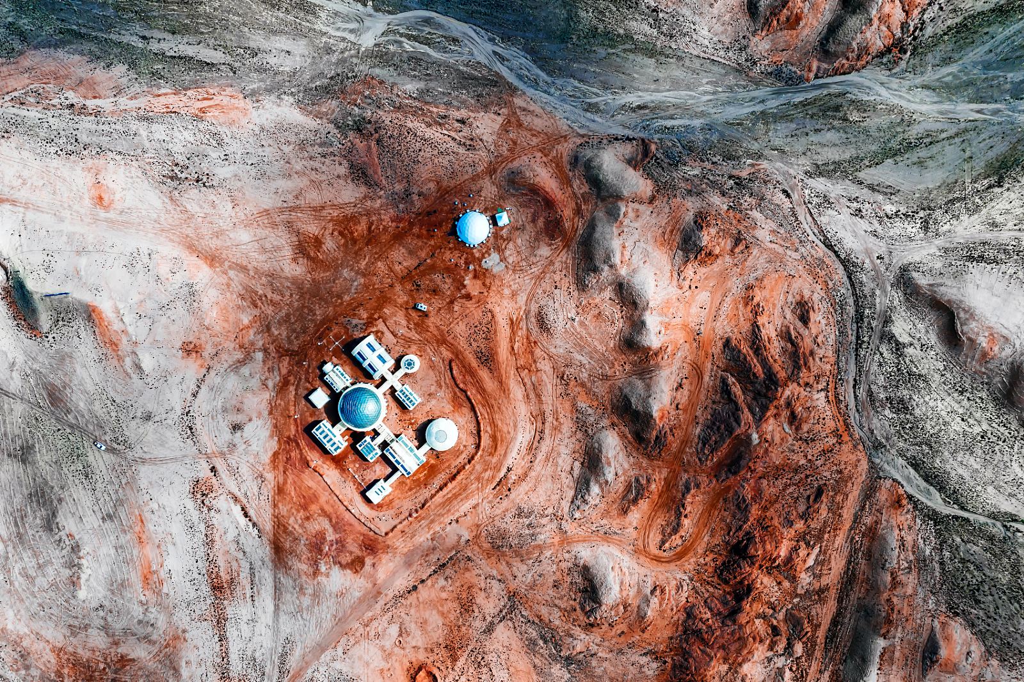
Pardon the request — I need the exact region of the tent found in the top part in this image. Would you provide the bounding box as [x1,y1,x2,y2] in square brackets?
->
[456,212,490,245]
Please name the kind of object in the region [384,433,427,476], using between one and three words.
building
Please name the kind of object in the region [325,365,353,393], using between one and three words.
building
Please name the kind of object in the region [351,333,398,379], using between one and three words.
hangar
